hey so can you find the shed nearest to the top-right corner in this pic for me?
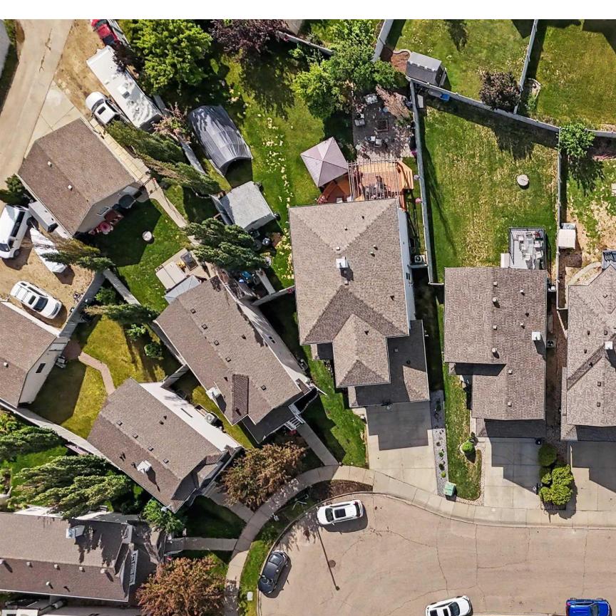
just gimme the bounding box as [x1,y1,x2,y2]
[405,50,443,88]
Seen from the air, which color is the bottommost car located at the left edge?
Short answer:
white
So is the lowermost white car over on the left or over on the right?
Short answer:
right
